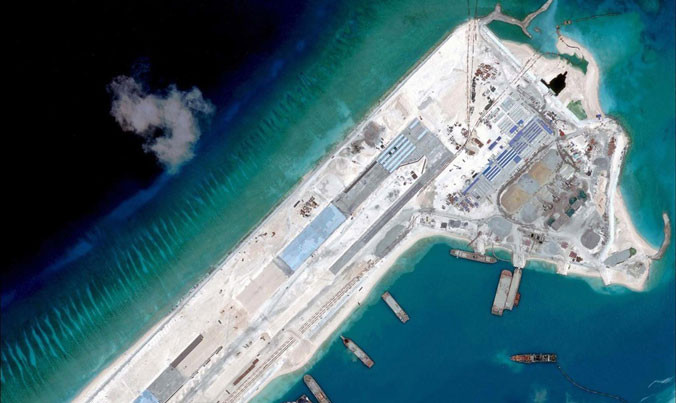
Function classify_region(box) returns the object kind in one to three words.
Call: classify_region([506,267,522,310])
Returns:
ship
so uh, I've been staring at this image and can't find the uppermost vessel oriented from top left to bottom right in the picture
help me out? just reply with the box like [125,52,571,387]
[382,292,409,322]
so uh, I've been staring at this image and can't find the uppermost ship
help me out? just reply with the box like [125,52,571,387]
[450,249,497,263]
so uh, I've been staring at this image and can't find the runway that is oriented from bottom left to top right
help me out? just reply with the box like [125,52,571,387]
[127,118,456,403]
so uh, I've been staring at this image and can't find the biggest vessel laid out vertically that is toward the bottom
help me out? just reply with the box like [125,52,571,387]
[492,271,512,315]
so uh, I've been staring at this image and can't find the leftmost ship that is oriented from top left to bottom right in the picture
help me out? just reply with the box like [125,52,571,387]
[303,375,330,403]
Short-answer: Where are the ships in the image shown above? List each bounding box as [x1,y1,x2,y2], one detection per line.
[506,267,522,310]
[492,271,512,315]
[303,375,330,403]
[382,292,409,322]
[341,336,372,367]
[450,249,497,263]
[510,355,557,362]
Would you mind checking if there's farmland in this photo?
No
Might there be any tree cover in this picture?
No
